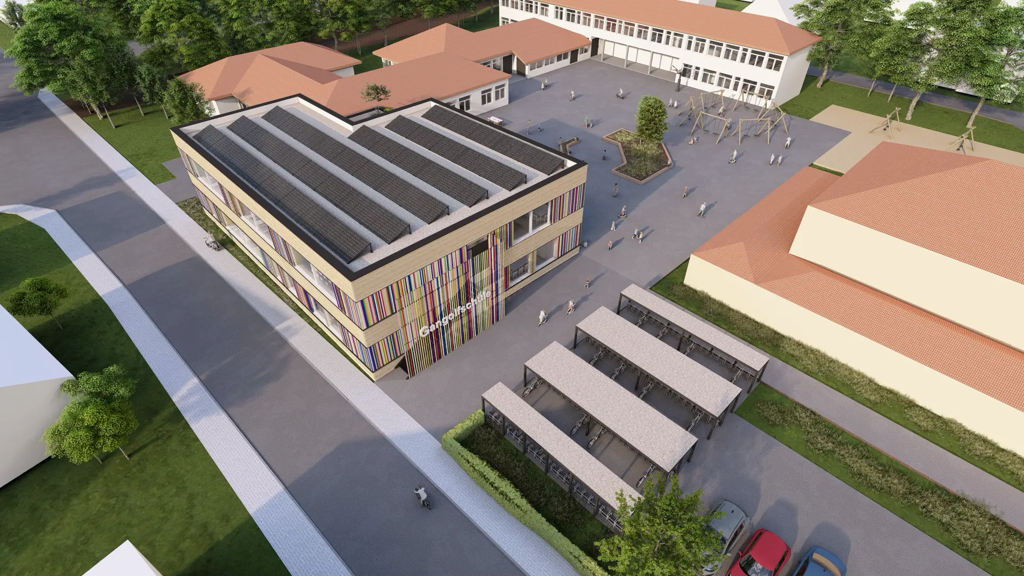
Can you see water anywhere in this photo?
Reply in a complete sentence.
No, there's no water in this view.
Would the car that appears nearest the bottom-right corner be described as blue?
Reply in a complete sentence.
Yes, blue is the color of the car that appears nearest the bottom-right corner.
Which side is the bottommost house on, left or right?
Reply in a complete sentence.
It is on the left.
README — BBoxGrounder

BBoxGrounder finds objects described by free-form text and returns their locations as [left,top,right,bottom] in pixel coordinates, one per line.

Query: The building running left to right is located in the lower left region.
[83,540,160,576]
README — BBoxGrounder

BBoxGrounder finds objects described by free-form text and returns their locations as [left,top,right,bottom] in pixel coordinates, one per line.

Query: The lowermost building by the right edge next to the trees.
[687,141,1024,453]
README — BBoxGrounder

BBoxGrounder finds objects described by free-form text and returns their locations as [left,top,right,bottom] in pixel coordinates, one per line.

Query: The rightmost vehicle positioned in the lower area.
[793,547,845,576]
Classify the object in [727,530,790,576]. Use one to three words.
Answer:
car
